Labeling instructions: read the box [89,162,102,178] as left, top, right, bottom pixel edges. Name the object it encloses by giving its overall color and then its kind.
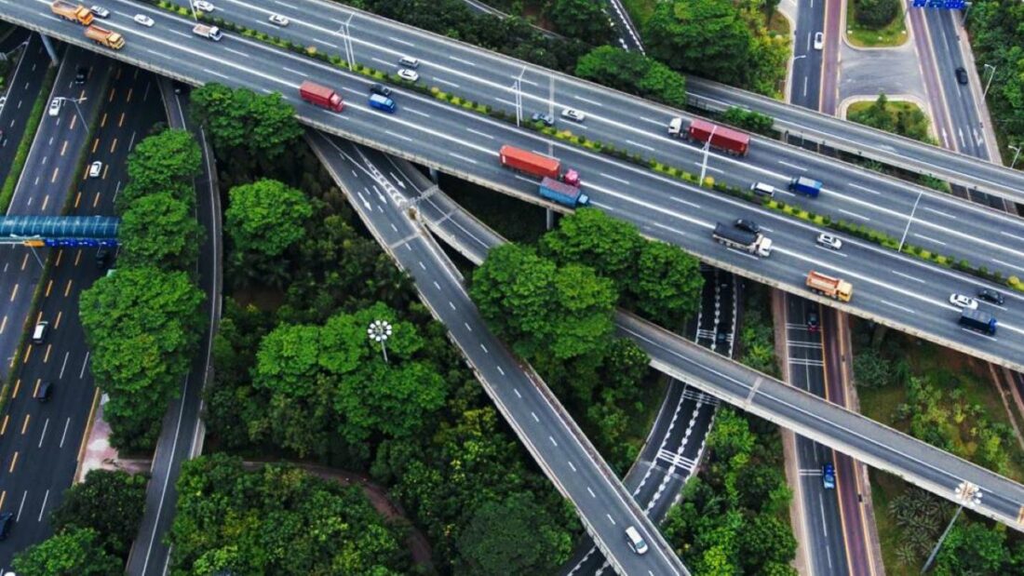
white vehicle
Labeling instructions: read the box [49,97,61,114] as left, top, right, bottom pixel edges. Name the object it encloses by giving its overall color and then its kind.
white vehicle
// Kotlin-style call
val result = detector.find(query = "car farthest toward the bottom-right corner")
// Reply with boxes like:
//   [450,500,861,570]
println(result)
[822,467,835,489]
